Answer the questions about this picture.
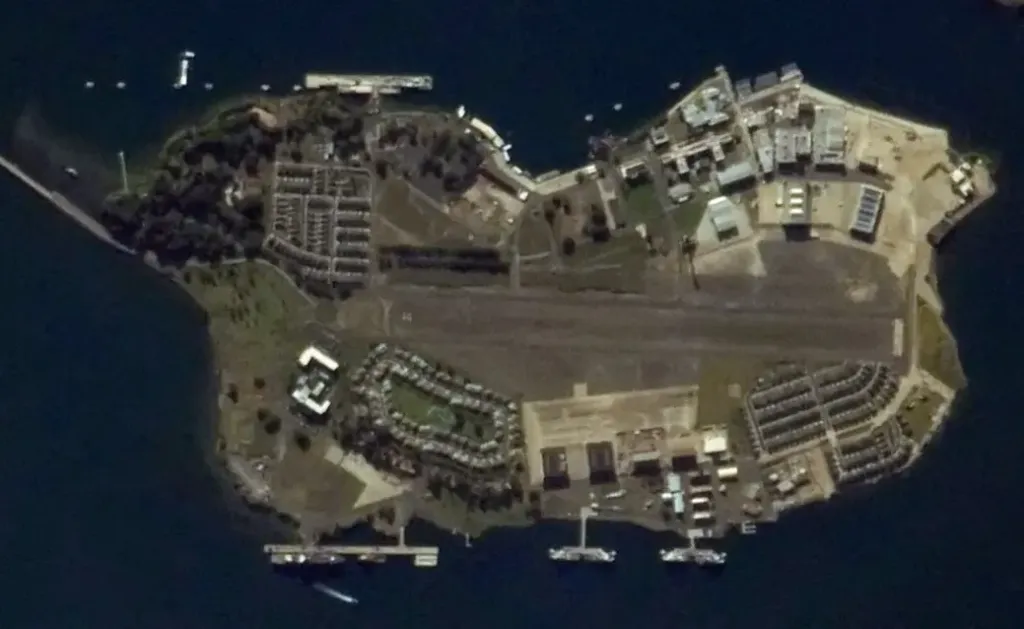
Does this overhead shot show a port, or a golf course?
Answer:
port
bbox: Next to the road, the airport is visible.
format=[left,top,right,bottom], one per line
[388,242,906,360]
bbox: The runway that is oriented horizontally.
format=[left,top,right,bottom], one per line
[388,292,904,360]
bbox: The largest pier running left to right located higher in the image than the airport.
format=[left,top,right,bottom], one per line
[305,74,433,113]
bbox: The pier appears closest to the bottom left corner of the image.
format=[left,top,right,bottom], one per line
[264,526,437,566]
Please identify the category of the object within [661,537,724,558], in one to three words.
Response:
pier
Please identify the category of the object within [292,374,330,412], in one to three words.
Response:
building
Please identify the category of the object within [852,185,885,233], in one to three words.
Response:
hangar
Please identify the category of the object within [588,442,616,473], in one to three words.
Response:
hangar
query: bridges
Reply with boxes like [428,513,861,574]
[0,156,138,255]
